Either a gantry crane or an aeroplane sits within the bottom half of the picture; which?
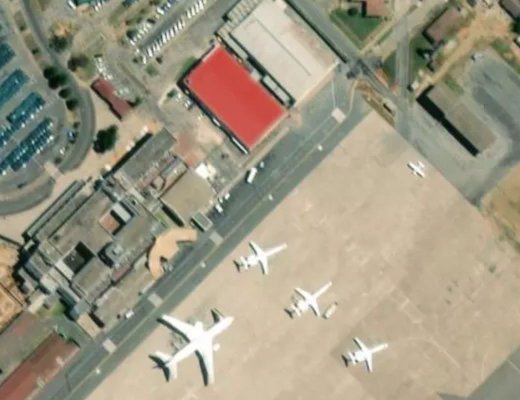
aeroplane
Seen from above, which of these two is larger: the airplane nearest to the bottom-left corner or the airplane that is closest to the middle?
the airplane nearest to the bottom-left corner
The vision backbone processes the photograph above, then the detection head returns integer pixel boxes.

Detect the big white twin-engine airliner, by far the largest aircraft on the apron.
[157,315,234,383]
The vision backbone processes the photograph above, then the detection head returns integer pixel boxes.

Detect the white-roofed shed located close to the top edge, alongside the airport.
[232,0,342,103]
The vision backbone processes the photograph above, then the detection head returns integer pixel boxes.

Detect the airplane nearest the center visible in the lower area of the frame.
[242,241,287,274]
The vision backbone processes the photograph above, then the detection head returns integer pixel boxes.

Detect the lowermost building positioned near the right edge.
[443,102,497,152]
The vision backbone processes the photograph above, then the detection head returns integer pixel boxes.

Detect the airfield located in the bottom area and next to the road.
[27,96,520,400]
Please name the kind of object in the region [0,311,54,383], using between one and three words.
building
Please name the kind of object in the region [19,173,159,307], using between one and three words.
building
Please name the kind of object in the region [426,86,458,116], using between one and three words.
hangar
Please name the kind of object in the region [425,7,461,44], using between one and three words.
house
